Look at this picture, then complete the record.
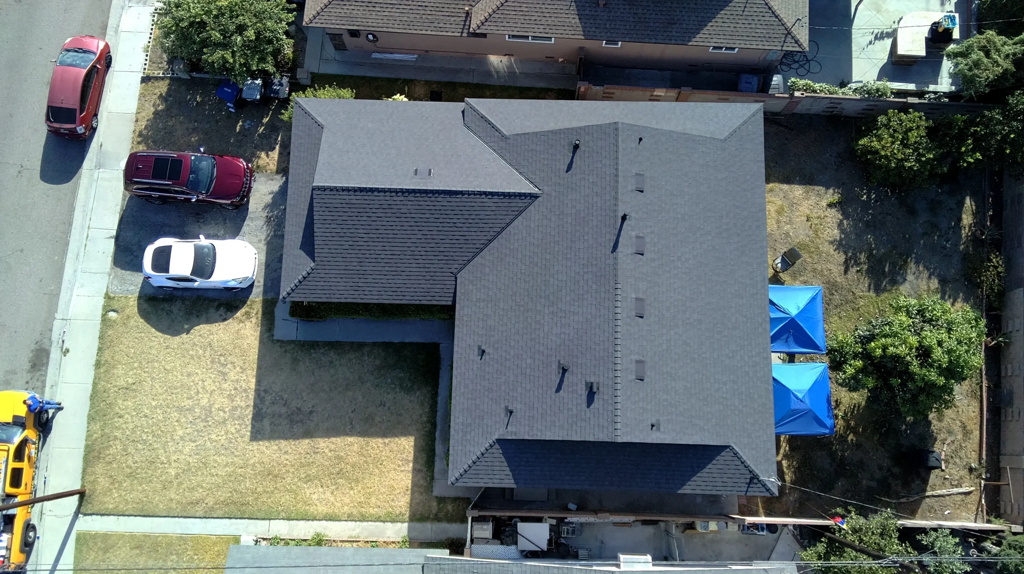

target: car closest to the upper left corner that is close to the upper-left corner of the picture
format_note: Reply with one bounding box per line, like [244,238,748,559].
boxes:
[42,36,110,141]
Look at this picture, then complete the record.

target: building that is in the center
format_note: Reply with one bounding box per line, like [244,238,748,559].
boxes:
[280,97,780,495]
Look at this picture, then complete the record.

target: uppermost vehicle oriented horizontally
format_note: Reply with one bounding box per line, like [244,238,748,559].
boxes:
[121,147,256,210]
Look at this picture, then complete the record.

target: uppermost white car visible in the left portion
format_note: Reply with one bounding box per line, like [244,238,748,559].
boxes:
[142,234,260,292]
